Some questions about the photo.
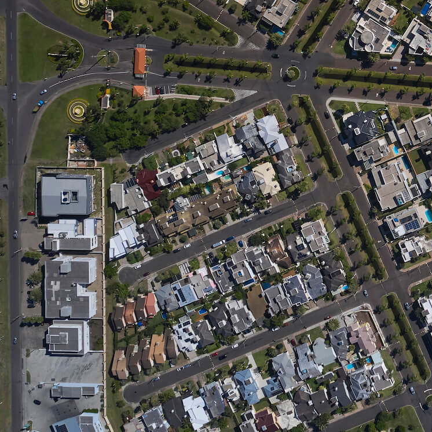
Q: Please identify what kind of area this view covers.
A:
residential area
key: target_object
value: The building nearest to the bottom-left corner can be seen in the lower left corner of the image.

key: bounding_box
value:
[51,382,101,397]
